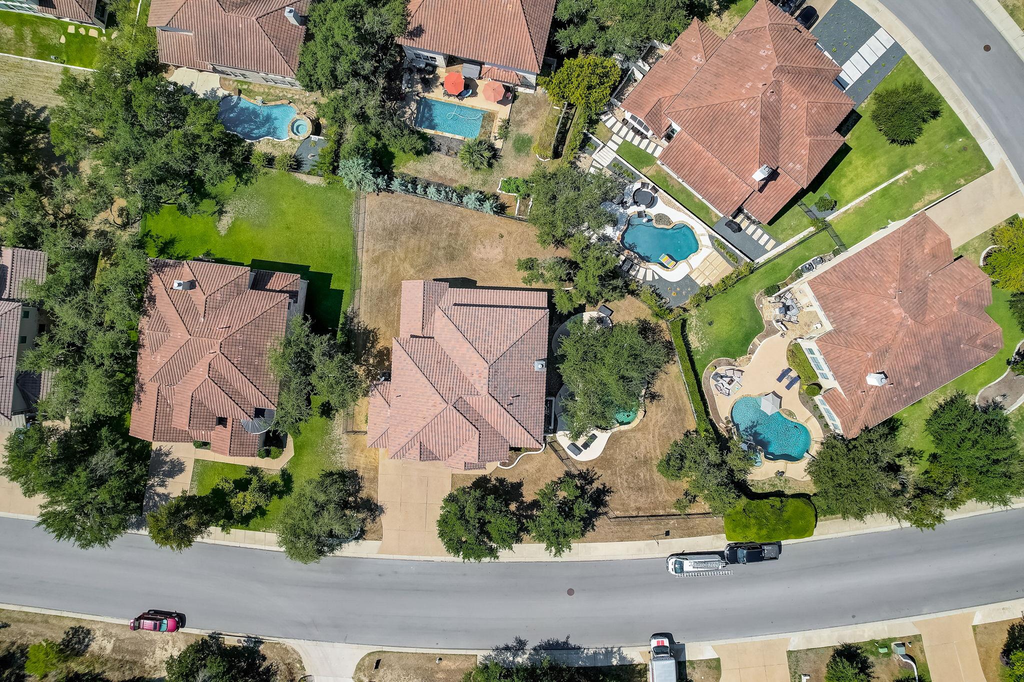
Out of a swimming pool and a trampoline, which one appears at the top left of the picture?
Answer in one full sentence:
The one visible at the top left of the picture is a swimming pool.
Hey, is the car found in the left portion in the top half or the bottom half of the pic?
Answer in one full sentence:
The car found in the left portion is in the bottom half of the image.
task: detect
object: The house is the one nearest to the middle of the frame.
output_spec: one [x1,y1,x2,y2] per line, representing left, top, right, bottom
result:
[368,280,550,470]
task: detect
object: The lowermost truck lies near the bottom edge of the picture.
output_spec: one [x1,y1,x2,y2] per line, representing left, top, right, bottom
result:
[647,630,676,682]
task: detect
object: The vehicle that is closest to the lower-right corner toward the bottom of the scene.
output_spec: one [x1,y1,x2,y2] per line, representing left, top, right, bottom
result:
[724,542,783,569]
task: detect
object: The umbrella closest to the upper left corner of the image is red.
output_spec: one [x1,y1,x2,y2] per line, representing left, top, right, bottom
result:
[444,74,465,96]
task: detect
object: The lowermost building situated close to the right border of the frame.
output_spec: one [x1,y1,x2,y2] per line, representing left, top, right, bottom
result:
[793,211,1005,436]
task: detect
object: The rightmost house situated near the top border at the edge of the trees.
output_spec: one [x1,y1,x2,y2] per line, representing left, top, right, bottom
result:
[620,0,856,225]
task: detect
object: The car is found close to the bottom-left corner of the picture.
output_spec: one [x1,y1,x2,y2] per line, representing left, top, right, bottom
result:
[126,610,184,637]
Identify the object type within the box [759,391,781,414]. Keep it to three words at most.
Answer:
umbrella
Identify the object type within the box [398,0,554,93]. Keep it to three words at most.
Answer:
house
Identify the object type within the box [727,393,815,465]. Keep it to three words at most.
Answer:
swimming pool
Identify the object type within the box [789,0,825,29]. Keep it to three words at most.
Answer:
car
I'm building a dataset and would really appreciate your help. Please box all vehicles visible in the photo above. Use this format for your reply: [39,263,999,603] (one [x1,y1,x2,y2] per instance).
[789,0,825,29]
[126,610,184,637]
[724,542,783,569]
[647,630,676,682]
[666,550,729,583]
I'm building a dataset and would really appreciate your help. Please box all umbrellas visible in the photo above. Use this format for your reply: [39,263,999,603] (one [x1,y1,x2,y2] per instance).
[482,81,505,104]
[759,391,781,414]
[444,74,465,96]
